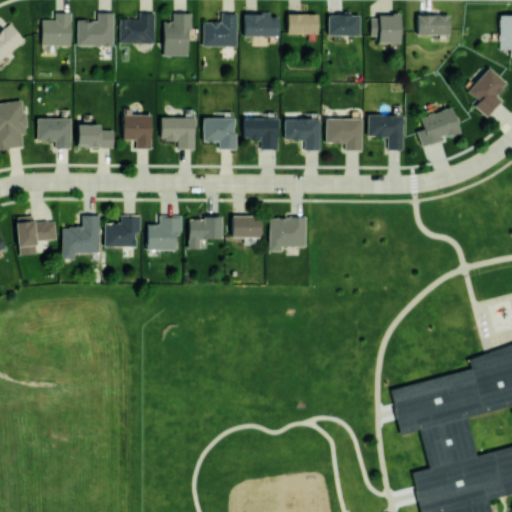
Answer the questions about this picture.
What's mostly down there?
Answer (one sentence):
The largest share of the image is taken up by grass.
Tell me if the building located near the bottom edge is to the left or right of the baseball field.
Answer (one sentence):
You can see the building located near the bottom edge positioned to the right of the baseball field.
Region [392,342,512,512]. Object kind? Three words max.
building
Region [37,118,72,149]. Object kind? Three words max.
house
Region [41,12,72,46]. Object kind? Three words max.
house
